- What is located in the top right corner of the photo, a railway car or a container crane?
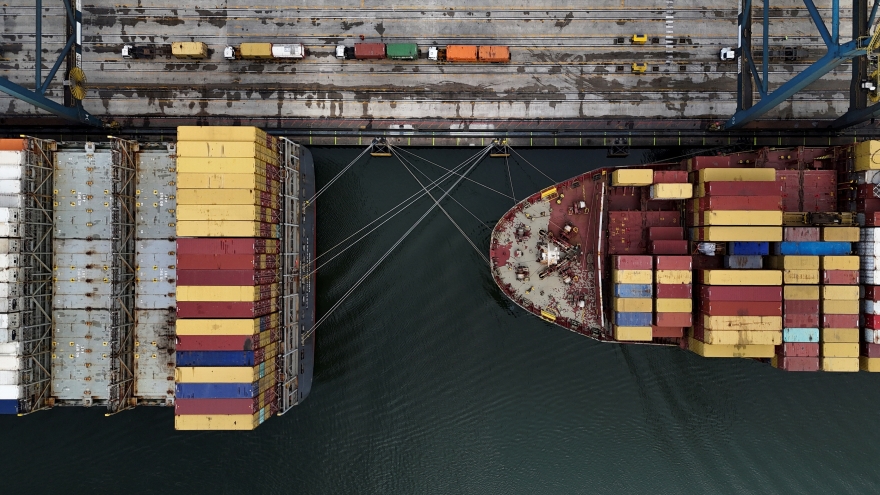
container crane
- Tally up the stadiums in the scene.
0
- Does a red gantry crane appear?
No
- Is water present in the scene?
Yes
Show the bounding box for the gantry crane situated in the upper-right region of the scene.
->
[697,0,880,132]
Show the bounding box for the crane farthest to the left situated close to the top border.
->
[0,0,130,132]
